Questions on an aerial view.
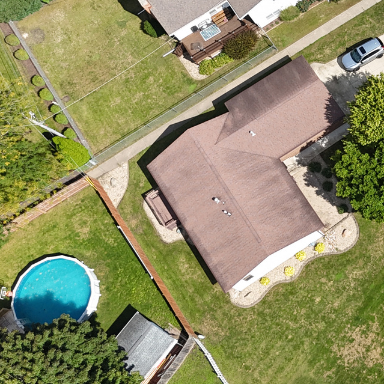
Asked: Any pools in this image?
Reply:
Yes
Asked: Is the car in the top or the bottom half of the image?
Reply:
top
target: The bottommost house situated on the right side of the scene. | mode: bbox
[146,56,342,293]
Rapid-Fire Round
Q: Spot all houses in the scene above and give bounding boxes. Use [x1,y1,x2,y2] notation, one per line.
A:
[146,56,342,293]
[136,0,302,53]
